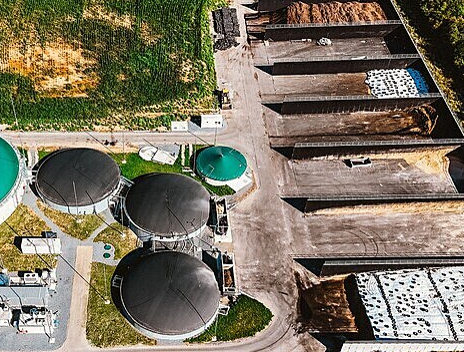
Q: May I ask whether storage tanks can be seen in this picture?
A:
Yes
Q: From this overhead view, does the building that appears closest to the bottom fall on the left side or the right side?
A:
left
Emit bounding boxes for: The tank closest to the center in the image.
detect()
[197,144,248,186]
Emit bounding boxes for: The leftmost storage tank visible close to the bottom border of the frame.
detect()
[120,250,220,340]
